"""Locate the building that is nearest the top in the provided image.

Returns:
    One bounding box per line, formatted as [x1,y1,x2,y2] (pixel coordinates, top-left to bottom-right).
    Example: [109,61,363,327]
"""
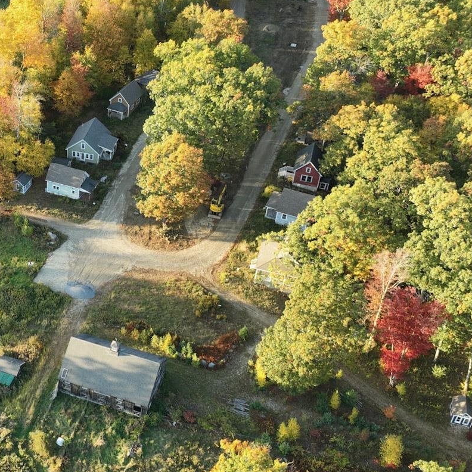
[107,66,144,120]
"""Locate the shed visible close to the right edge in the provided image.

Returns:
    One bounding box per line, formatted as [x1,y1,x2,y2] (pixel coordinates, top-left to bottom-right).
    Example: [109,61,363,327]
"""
[451,393,472,427]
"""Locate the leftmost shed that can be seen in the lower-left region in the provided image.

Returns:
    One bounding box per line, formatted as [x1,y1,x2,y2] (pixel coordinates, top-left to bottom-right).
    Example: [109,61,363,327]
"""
[0,350,27,387]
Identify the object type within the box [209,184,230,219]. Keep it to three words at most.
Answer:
work vehicle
